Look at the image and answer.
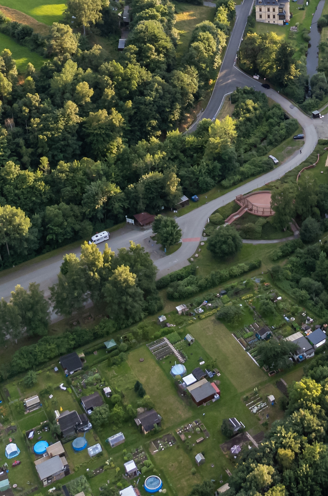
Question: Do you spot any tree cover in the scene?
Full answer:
Yes, there's tree cover in this view.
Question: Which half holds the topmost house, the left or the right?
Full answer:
It is on the right.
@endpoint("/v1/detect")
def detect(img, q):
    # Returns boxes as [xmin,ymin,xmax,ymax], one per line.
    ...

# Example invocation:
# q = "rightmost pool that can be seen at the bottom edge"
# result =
[143,473,164,495]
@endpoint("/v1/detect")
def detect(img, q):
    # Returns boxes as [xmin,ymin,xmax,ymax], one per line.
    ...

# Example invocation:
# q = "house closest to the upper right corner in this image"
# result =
[254,0,289,24]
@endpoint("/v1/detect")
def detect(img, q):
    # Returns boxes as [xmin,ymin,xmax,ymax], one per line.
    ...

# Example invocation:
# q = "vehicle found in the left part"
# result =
[89,227,111,242]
